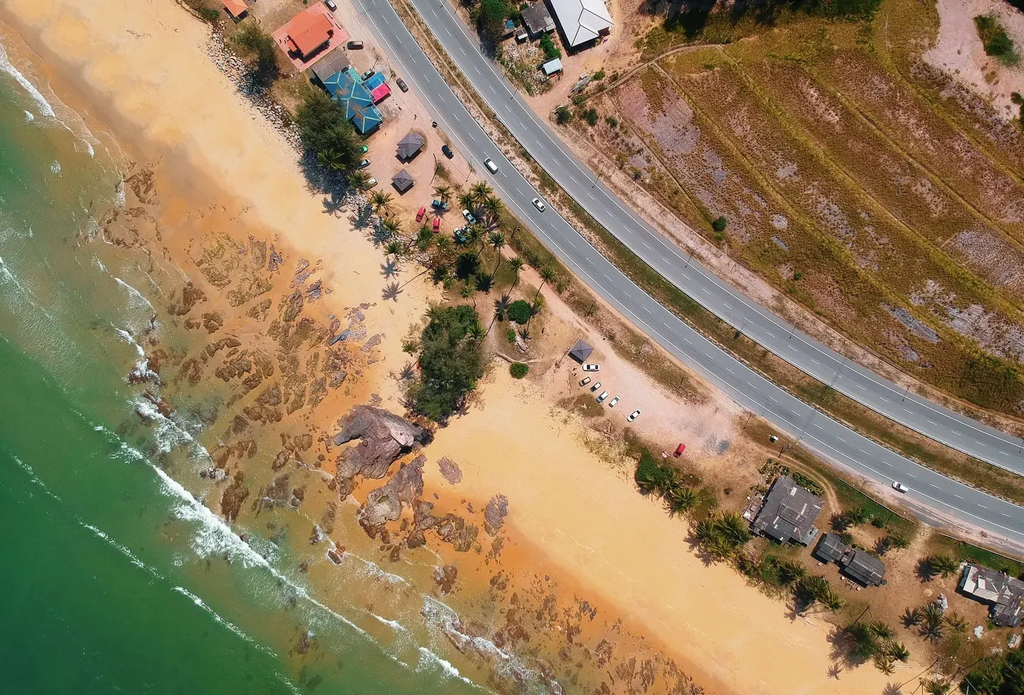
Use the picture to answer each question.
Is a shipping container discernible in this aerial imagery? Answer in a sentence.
No, no shipping container is visible in the view.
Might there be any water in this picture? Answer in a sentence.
Yes, water shows up in the scene.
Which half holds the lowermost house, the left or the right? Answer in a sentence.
The lowermost house is on the right side of the image.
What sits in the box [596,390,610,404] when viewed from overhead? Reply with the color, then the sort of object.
white car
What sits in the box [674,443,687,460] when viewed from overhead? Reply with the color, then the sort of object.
red vehicle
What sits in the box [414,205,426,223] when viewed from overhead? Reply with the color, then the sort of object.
red vehicle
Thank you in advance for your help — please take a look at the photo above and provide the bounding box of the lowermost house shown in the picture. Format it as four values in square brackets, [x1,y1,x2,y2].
[959,565,1024,627]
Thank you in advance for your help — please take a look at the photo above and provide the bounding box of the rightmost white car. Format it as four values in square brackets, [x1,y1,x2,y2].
[892,481,912,495]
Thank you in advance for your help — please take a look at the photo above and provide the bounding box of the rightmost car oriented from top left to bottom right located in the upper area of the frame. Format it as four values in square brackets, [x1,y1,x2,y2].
[531,196,546,213]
